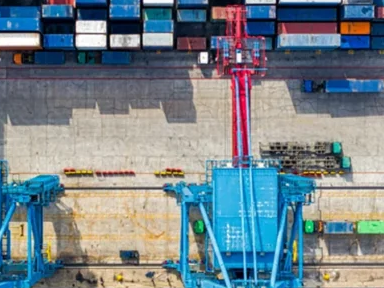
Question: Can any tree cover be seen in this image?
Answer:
No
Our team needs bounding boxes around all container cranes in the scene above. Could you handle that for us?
[163,7,313,288]
[0,158,67,288]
